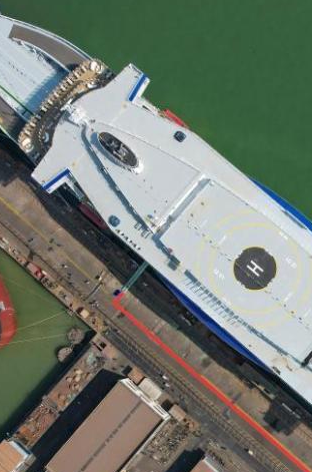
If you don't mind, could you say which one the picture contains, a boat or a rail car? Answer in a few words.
boat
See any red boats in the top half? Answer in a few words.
Yes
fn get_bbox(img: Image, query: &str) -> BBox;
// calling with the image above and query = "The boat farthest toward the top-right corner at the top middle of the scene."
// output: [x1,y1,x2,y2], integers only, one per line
[158,107,185,127]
